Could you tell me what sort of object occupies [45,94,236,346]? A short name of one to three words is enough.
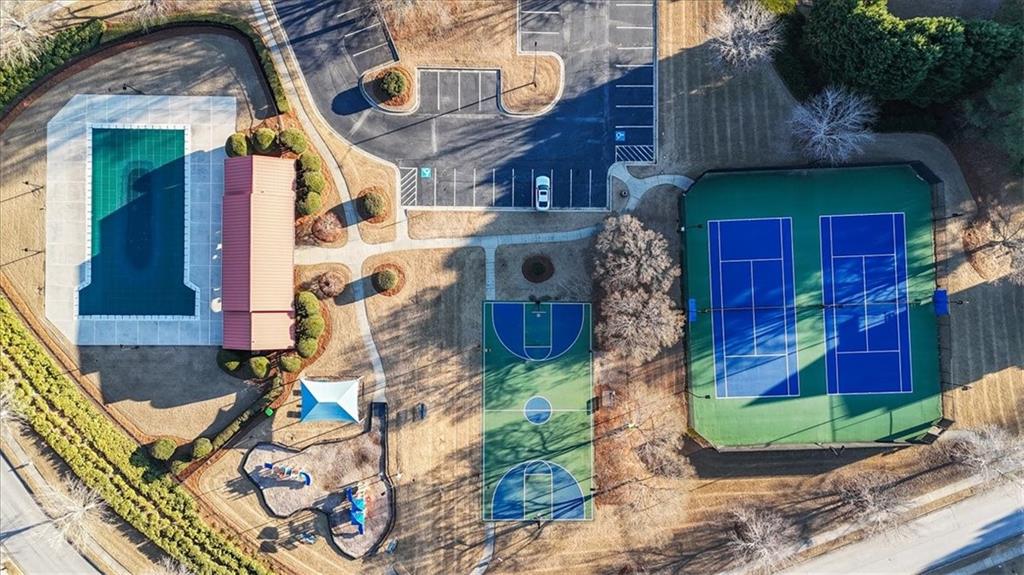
swimming pool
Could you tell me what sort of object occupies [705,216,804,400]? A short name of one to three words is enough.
tennis court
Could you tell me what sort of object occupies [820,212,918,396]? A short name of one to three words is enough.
tennis court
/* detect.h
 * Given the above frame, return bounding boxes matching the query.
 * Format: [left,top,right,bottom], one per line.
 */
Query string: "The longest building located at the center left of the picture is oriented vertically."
[220,152,298,351]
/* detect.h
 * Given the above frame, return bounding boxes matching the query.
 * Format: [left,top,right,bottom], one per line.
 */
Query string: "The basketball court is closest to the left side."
[483,303,593,521]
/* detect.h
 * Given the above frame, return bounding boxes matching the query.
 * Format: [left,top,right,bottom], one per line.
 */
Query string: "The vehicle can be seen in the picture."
[535,175,551,210]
